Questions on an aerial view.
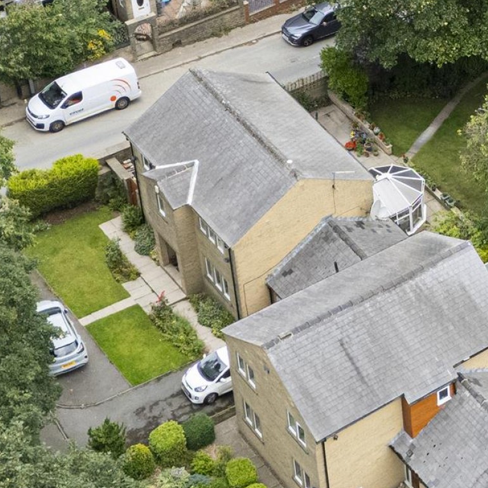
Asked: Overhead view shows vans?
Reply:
Yes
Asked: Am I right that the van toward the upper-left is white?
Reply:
Yes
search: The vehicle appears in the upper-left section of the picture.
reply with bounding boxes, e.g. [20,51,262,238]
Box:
[28,57,135,132]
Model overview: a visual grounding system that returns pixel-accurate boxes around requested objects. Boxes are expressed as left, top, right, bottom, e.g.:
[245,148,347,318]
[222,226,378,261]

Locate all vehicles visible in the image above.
[28,57,135,132]
[31,295,94,374]
[181,338,233,398]
[282,0,355,45]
